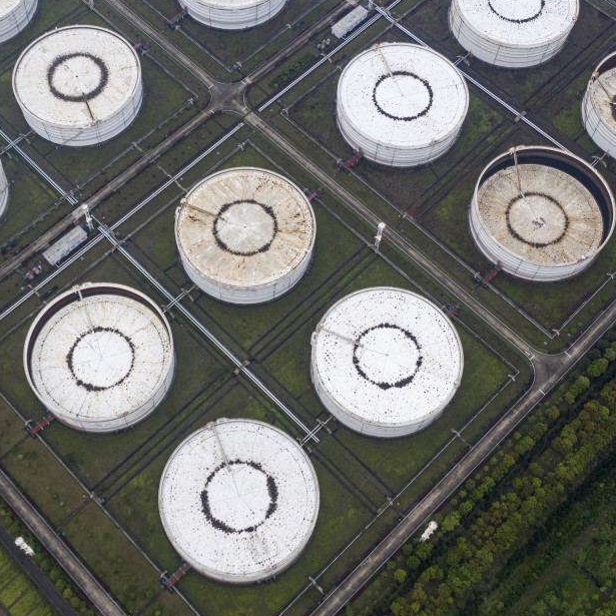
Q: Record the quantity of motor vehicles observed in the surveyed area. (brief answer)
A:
none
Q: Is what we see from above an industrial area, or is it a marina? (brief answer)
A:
industrial area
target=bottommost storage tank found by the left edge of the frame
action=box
[23,281,179,437]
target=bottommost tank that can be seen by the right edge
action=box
[464,145,616,284]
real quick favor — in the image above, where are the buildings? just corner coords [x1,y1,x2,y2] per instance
[43,225,88,265]
[331,5,368,38]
